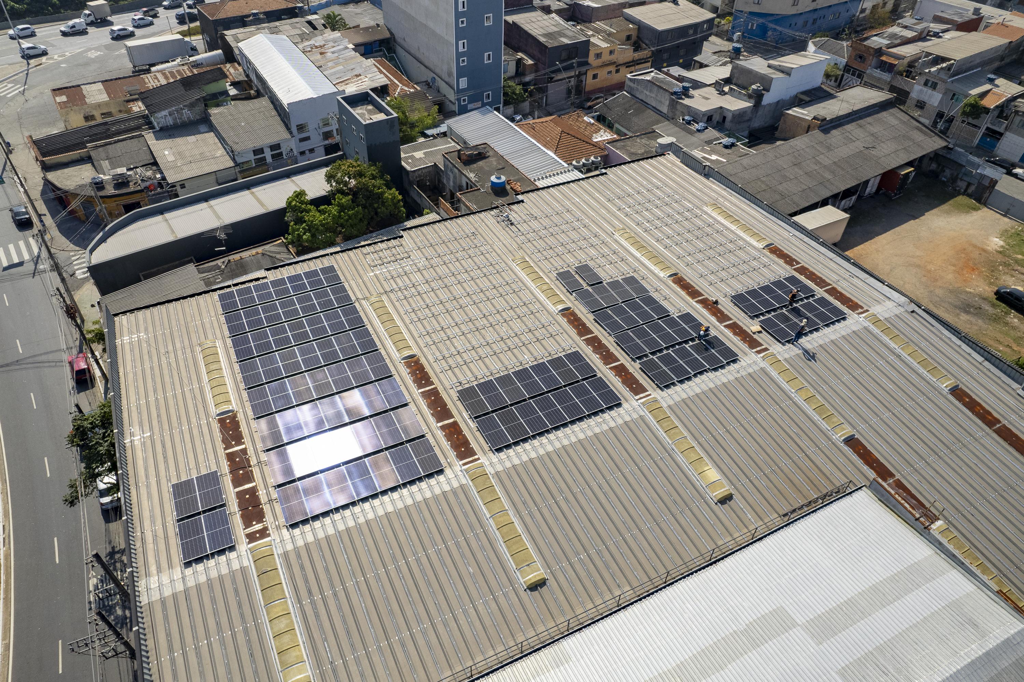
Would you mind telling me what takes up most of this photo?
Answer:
buildings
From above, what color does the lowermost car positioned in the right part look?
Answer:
black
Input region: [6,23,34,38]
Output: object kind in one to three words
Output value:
car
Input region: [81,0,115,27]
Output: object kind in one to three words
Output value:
truck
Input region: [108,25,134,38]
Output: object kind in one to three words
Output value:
vehicle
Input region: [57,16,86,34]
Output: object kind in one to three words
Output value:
vehicle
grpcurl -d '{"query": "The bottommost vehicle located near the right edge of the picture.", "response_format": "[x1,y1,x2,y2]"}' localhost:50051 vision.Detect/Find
[993,283,1024,314]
